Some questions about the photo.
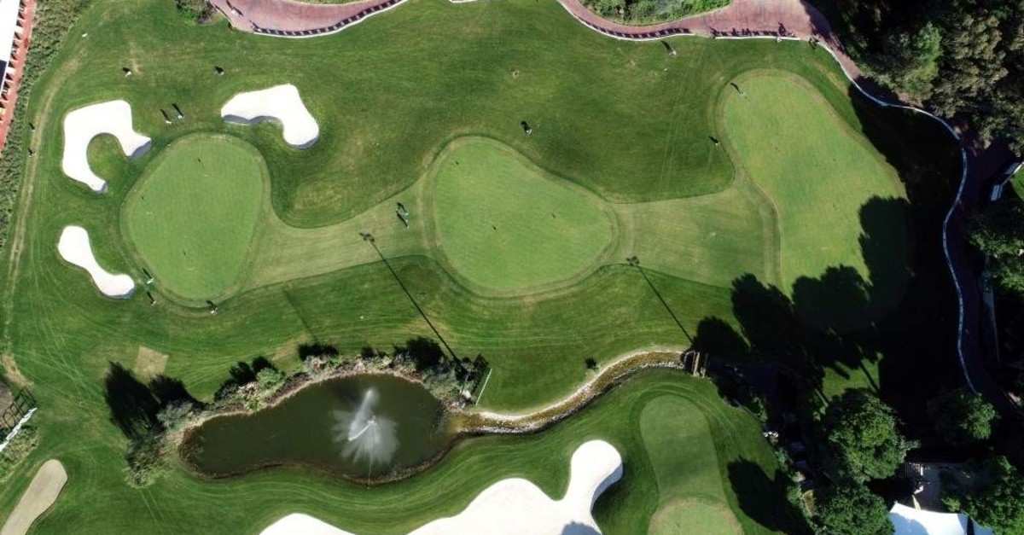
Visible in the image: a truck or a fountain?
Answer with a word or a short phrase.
fountain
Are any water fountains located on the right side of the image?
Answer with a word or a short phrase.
No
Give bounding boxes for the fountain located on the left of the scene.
[334,378,426,488]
